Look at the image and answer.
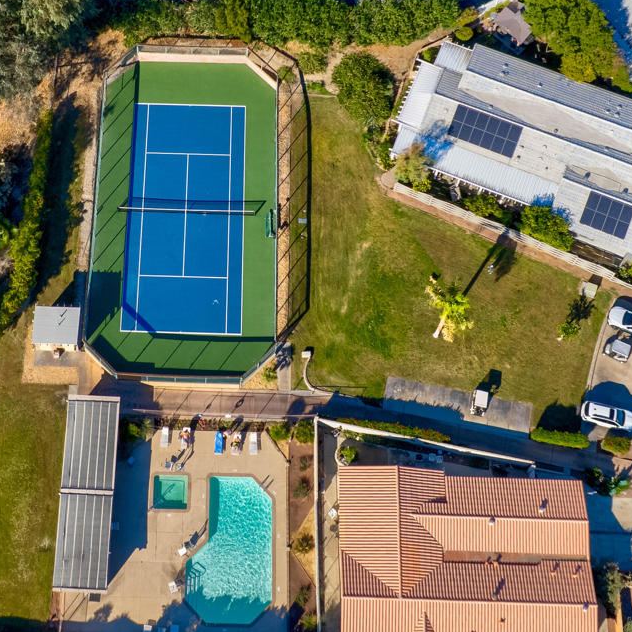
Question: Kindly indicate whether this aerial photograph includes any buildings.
Yes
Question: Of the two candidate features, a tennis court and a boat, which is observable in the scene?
tennis court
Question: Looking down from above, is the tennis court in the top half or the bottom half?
top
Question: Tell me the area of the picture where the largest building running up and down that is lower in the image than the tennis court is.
bottom left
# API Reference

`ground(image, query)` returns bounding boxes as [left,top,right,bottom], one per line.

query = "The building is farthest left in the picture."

[32,305,79,351]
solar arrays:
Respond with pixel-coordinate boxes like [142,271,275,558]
[578,190,632,240]
[447,102,525,158]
